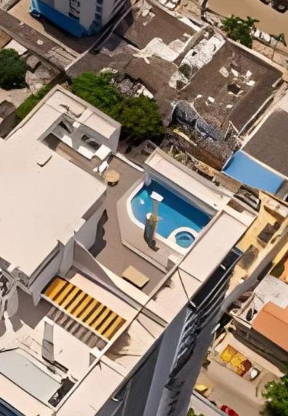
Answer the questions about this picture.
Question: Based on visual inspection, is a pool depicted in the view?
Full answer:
Yes, the picture does show a pool.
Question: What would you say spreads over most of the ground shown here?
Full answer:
What you mostly see from above here is buildings.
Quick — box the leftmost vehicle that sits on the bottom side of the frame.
[192,380,210,397]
